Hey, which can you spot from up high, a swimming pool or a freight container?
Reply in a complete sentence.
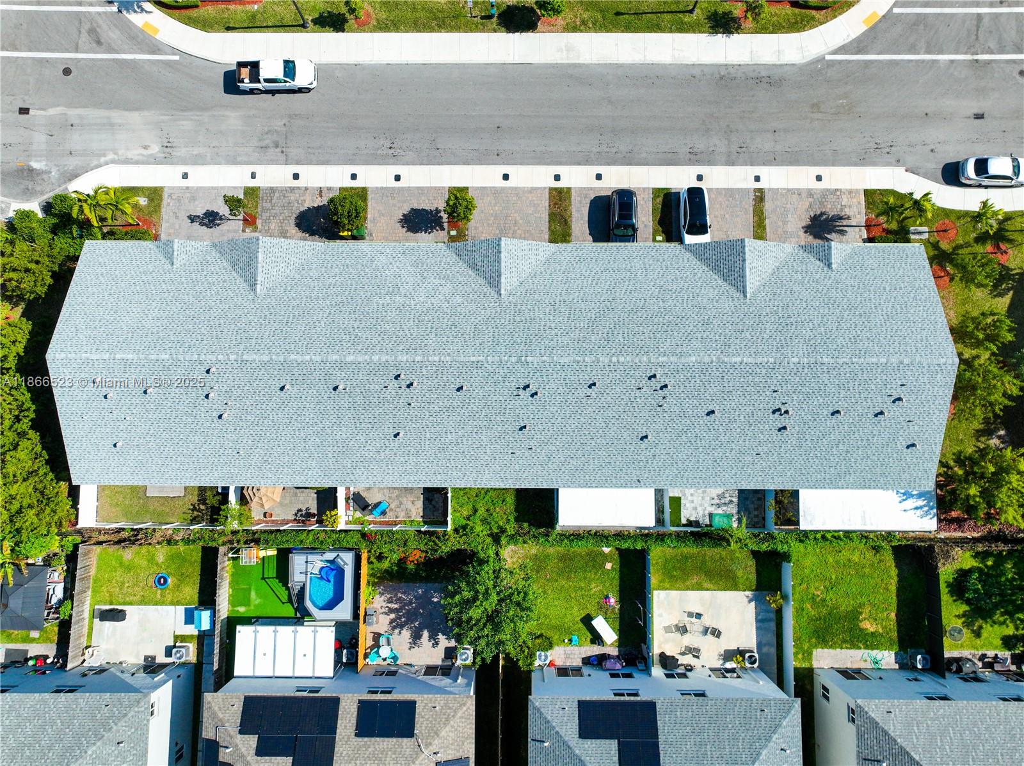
Visible in the photo is a swimming pool.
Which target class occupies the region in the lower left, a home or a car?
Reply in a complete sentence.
It is a home that can be seen in the lower left.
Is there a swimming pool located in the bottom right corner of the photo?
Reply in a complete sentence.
No, no swimming pool appears in the bottom right corner of the photo.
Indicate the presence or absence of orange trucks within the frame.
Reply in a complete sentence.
No, there's no orange truck here.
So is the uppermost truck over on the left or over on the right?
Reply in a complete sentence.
It is on the left.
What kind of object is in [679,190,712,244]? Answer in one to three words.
car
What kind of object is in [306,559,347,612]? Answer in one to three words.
swimming pool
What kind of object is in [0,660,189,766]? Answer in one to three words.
house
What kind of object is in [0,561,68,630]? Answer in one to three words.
gazebo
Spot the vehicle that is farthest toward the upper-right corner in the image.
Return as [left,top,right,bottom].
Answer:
[955,155,1024,186]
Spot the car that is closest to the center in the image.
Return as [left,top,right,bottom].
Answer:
[608,194,641,241]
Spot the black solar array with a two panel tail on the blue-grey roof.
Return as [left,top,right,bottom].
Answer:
[576,701,661,766]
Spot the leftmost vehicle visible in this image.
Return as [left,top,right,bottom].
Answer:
[235,57,319,94]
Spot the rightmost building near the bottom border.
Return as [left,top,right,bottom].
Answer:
[817,670,1024,766]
